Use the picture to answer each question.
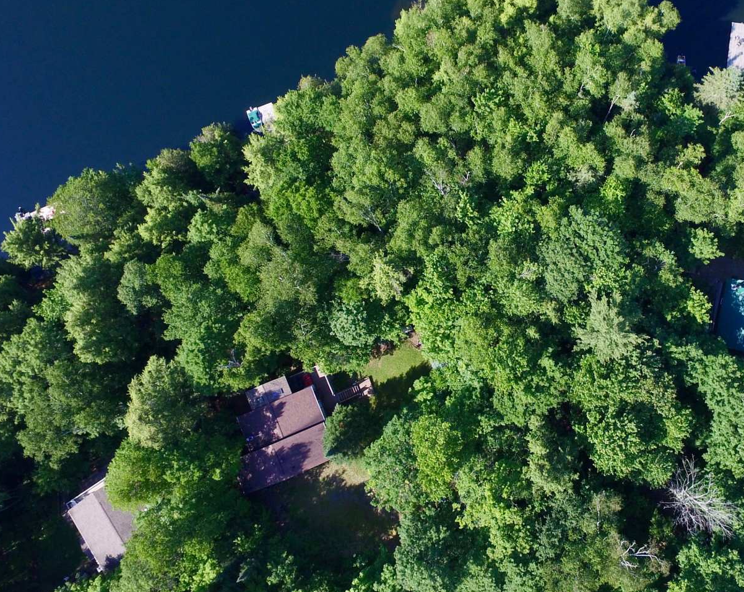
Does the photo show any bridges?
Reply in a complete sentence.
No, the picture doesn't show any bridge.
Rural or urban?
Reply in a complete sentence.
It looks rural.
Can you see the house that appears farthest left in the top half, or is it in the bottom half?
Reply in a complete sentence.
You can find the house that appears farthest left in the bottom half.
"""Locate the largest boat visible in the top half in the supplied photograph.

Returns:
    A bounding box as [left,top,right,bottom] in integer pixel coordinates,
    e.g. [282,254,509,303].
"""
[246,106,262,131]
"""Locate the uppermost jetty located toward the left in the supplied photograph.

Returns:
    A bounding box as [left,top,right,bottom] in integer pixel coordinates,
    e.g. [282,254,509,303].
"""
[258,102,282,128]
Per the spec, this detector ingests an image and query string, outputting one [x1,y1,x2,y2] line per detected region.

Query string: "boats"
[15,208,30,222]
[246,106,262,131]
